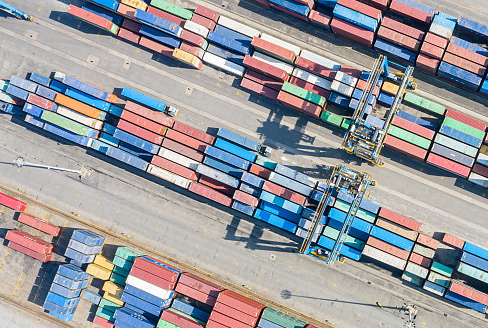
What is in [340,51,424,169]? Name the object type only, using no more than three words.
container crane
